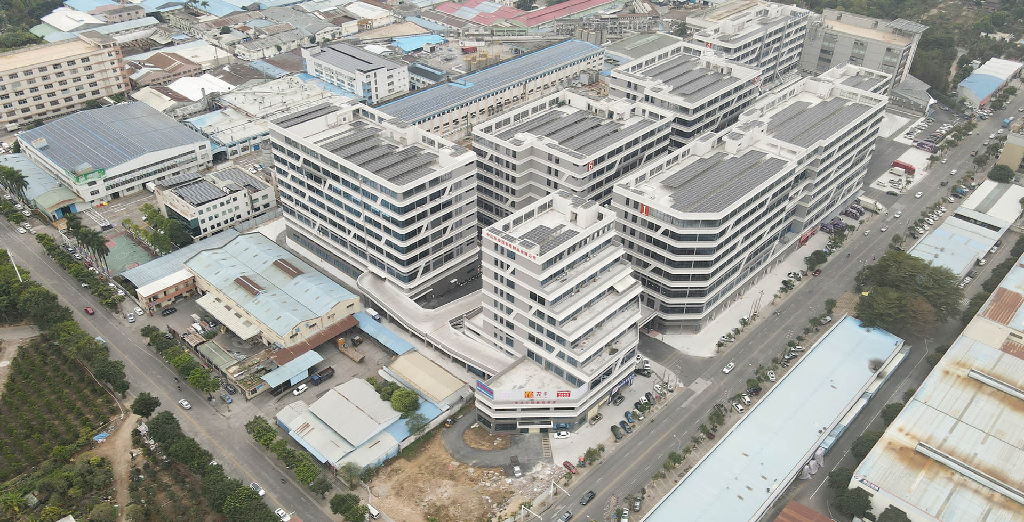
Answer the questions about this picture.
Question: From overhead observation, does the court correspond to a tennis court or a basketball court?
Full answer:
In the photo, the court shows up as a basketball court.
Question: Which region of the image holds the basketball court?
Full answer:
You can find the basketball court in the left area of the picture.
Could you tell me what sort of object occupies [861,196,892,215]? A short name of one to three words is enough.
vehicle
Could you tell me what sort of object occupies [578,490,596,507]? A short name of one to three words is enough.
car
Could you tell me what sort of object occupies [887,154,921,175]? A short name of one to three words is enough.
truck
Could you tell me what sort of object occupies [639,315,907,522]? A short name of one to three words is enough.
building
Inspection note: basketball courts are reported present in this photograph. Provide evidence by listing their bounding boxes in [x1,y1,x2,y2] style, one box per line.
[86,234,152,291]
